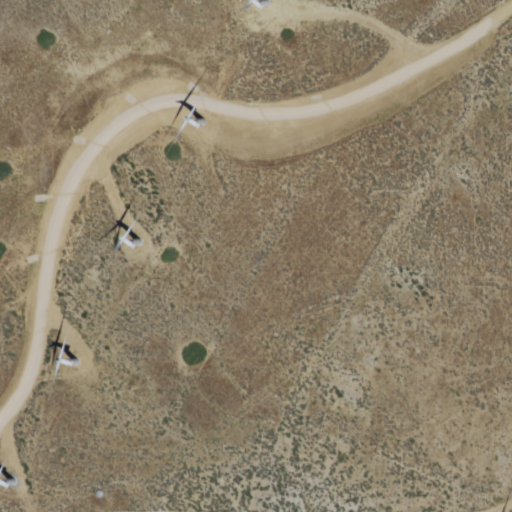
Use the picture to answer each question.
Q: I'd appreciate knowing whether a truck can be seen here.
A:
No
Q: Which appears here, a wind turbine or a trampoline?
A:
wind turbine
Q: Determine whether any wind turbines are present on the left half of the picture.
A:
Yes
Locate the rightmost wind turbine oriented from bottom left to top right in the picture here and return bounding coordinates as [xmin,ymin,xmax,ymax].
[173,87,208,144]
